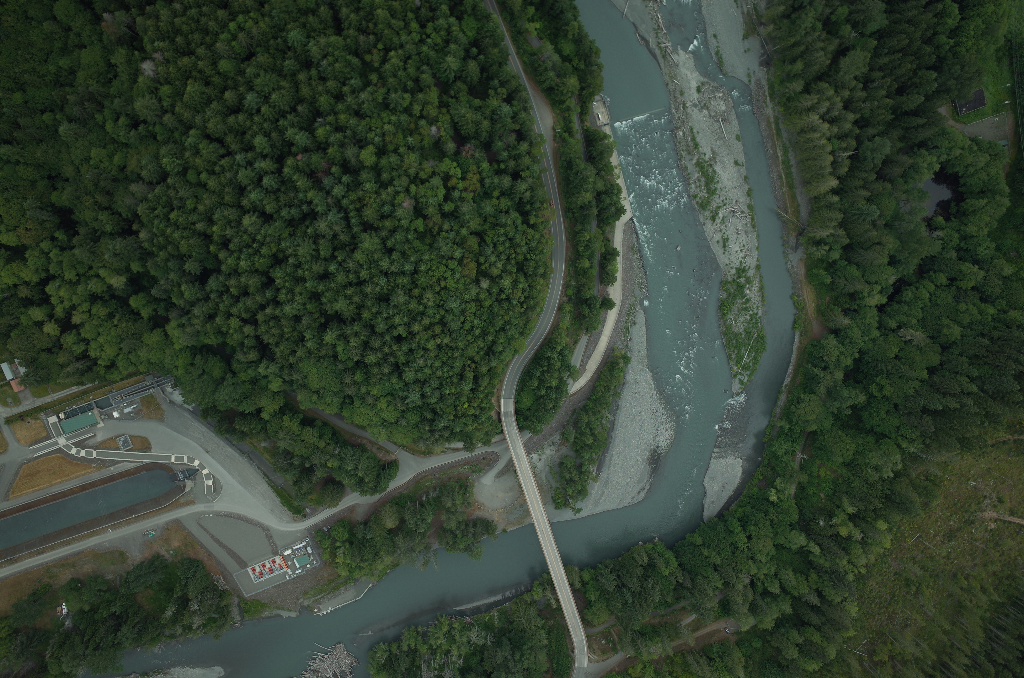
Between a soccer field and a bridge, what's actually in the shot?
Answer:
bridge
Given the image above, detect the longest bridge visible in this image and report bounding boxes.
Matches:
[500,399,589,668]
